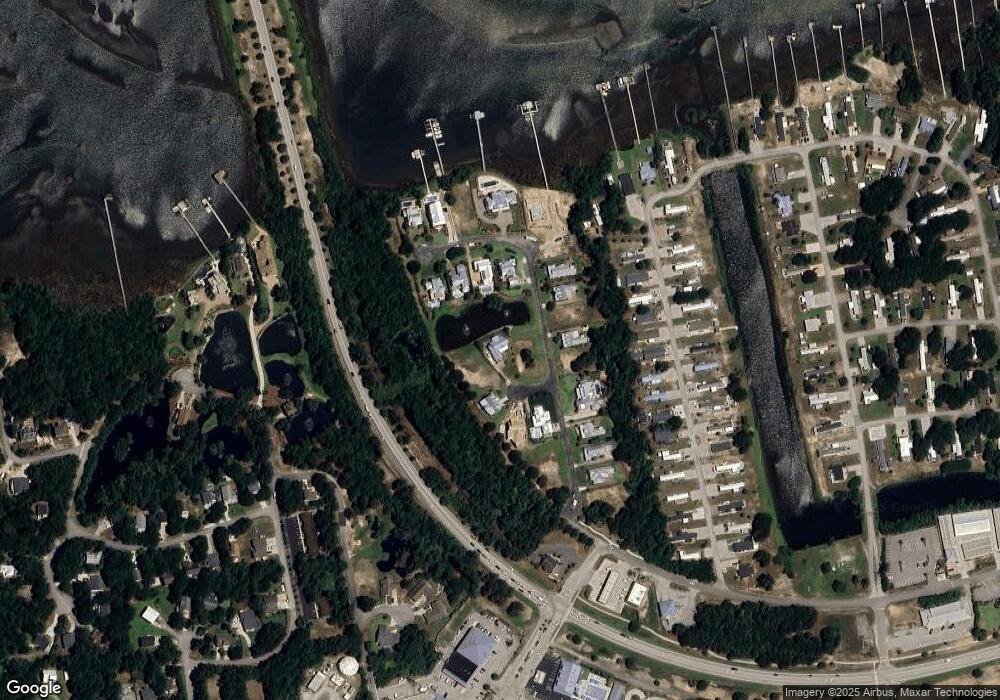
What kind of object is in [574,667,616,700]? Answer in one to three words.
building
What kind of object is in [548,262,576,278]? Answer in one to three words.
house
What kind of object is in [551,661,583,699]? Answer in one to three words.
building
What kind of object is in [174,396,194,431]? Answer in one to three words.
house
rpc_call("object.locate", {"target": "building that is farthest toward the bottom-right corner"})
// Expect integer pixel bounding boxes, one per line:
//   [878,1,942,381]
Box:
[919,598,975,633]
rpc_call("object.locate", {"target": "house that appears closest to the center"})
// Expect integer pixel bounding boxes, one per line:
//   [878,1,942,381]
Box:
[485,334,510,358]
